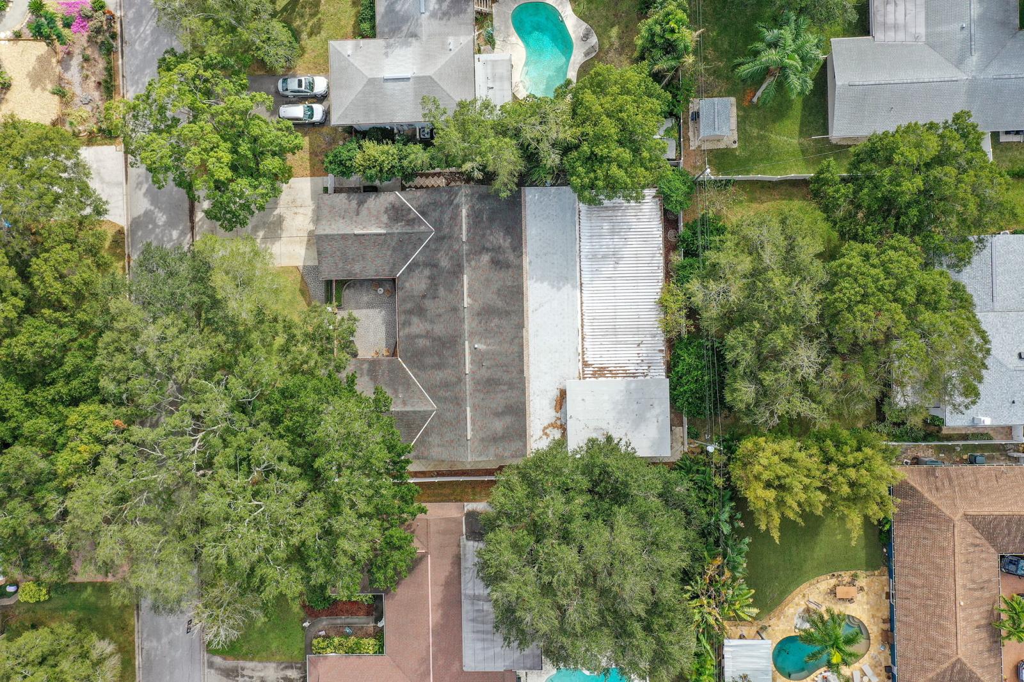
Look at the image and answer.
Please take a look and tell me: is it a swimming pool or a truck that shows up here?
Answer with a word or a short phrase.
swimming pool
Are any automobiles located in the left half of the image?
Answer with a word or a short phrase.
Yes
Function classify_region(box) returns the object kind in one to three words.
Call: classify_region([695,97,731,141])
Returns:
shed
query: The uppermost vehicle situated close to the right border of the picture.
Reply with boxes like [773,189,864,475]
[1003,557,1024,579]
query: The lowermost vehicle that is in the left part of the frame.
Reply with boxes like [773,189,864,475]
[279,101,326,125]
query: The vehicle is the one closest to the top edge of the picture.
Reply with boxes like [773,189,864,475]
[277,72,327,97]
